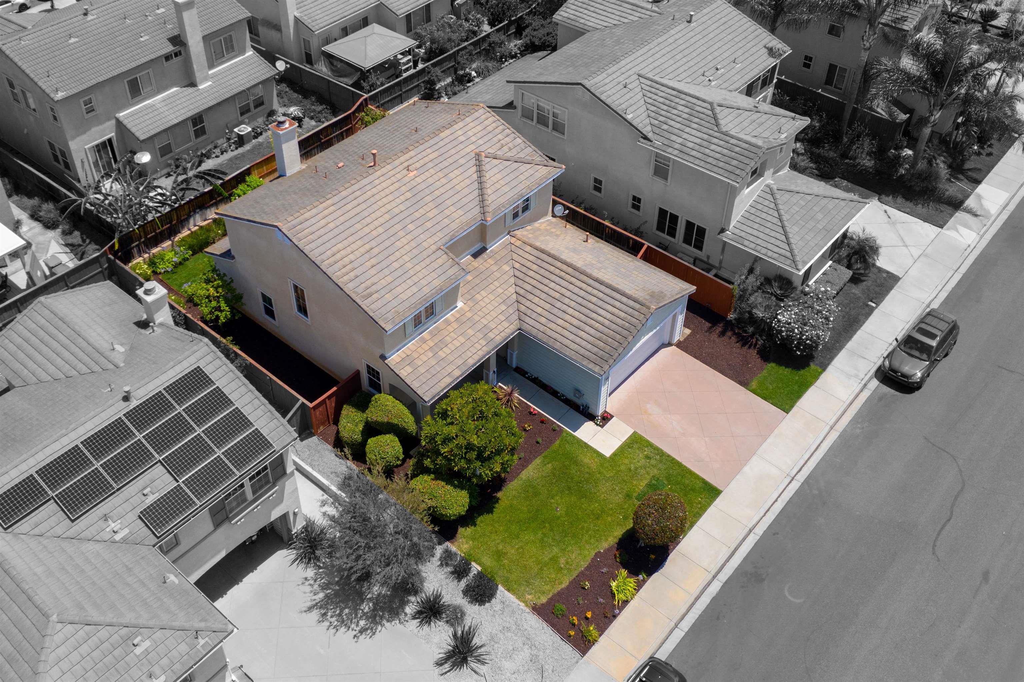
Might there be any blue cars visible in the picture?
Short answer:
No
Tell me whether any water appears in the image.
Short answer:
No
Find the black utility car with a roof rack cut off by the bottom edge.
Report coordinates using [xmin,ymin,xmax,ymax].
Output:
[632,651,695,682]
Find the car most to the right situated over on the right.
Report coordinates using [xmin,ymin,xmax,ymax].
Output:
[888,300,967,384]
